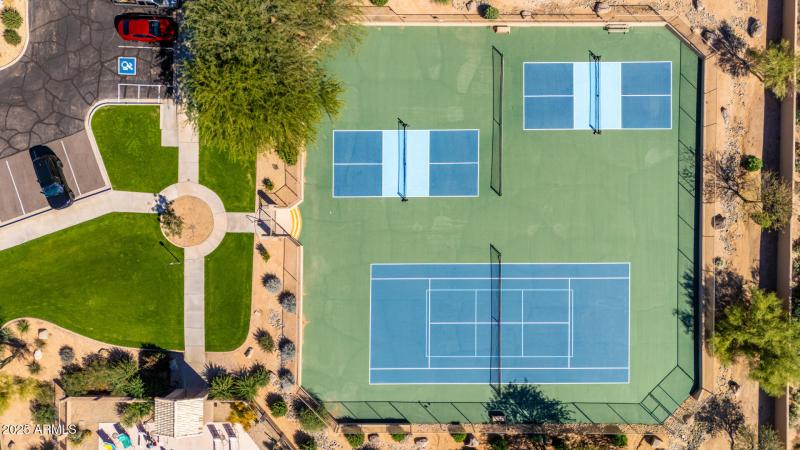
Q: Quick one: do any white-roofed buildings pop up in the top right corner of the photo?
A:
No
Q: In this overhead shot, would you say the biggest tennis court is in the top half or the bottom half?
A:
bottom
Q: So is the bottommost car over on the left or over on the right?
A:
left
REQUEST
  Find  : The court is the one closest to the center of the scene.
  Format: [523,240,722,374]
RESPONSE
[333,129,479,198]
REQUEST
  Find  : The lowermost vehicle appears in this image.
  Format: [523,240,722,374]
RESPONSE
[32,148,73,205]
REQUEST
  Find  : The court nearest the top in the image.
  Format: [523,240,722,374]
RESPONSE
[523,62,672,130]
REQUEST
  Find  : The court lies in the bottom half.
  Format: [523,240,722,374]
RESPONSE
[370,263,630,384]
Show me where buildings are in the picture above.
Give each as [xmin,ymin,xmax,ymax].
[154,391,212,439]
